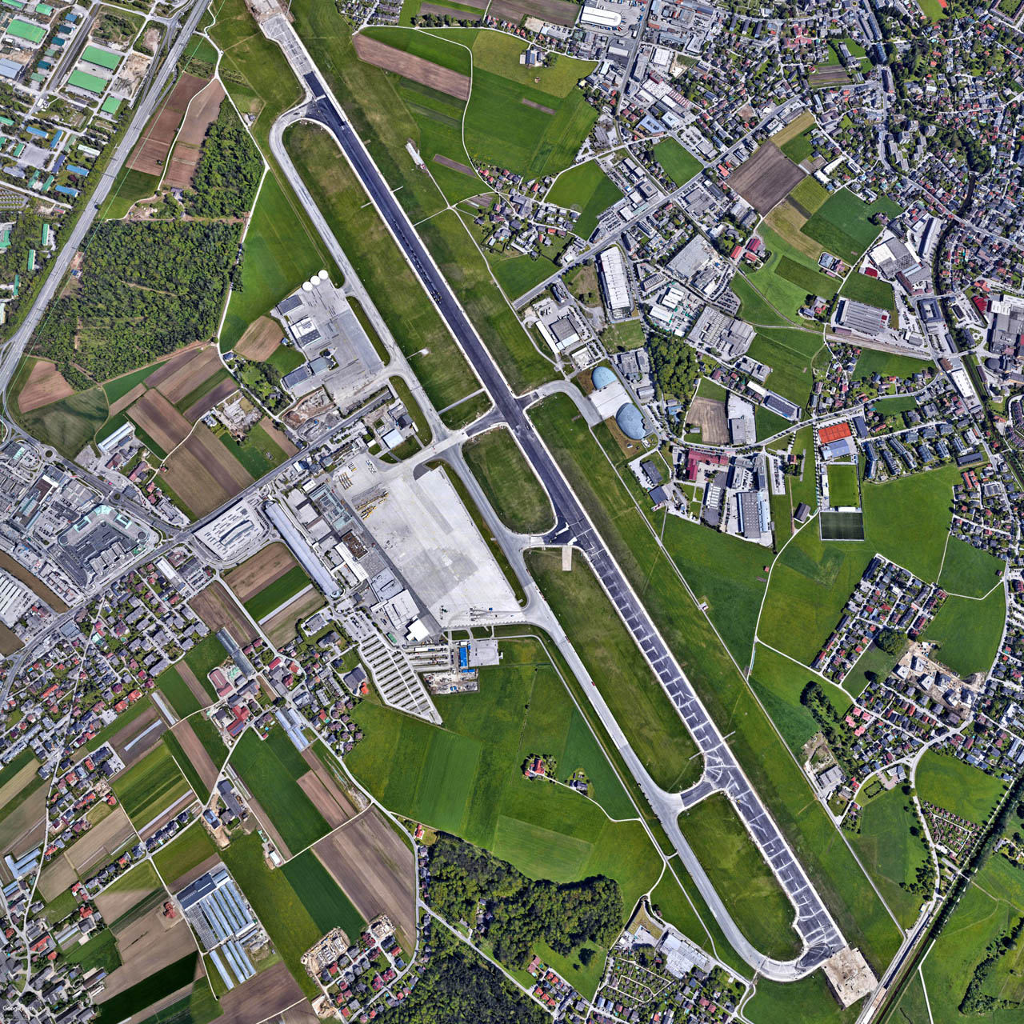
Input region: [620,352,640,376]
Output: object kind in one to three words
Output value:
building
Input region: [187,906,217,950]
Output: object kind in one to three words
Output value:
greenhouse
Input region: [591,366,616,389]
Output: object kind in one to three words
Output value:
hangar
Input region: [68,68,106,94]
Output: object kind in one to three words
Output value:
building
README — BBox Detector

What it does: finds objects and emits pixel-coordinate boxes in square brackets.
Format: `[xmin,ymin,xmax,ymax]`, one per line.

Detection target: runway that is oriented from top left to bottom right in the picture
[262,14,840,948]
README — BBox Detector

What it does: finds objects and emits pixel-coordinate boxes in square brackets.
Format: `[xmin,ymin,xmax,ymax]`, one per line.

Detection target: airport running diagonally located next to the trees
[259,14,905,1010]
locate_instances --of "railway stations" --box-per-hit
[824,331,931,359]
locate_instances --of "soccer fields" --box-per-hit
[826,465,859,507]
[819,511,864,541]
